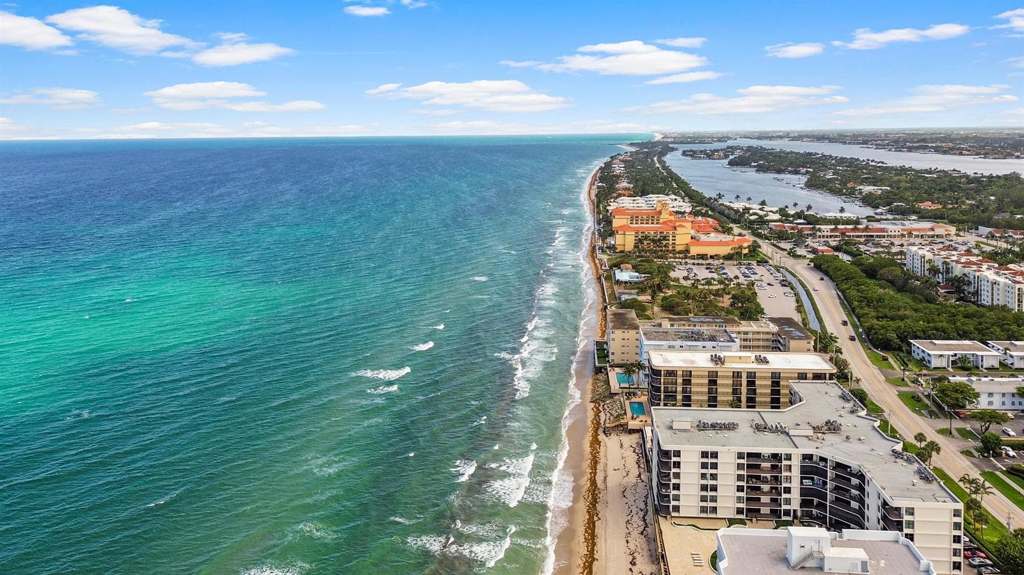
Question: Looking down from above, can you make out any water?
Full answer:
Yes, water shows up in the scene.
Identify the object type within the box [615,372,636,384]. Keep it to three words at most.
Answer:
swimming pool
